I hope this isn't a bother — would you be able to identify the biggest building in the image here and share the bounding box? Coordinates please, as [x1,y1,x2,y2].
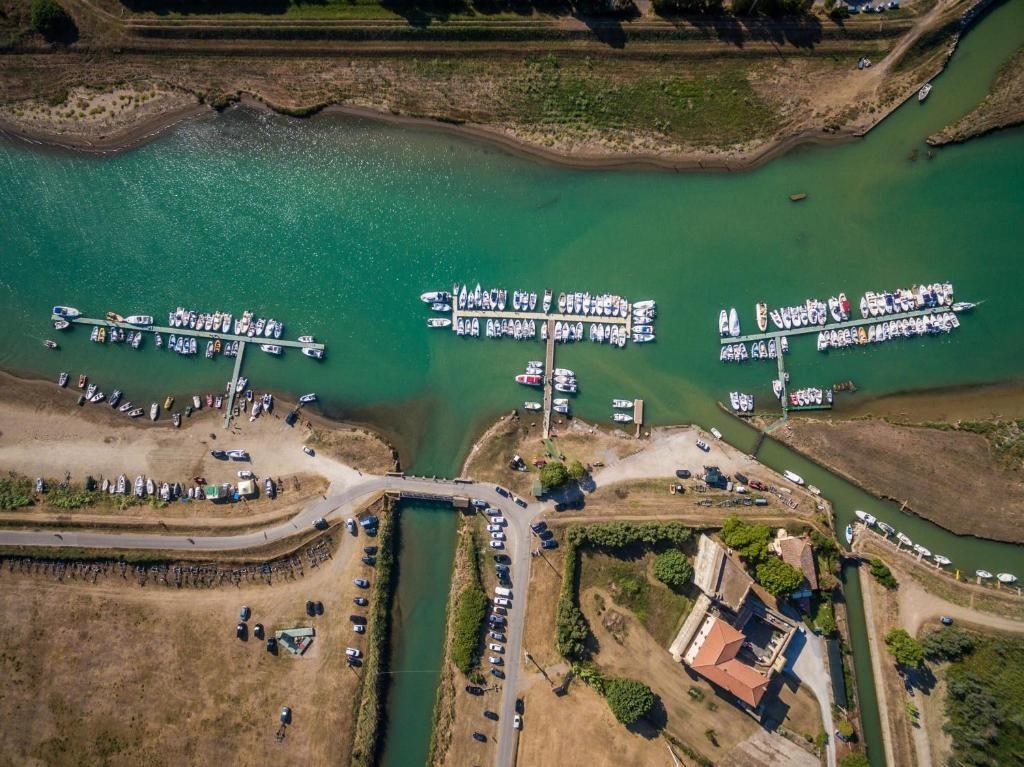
[666,529,799,712]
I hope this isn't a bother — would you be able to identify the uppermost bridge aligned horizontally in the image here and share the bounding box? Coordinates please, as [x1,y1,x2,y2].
[384,472,472,508]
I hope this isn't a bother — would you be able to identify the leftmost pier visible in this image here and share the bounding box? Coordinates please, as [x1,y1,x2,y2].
[51,315,324,419]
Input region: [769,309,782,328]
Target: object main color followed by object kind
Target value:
white boat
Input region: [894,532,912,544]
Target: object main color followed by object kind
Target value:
white boat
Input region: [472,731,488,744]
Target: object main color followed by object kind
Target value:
black vehicle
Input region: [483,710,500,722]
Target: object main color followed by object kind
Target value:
black vehicle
